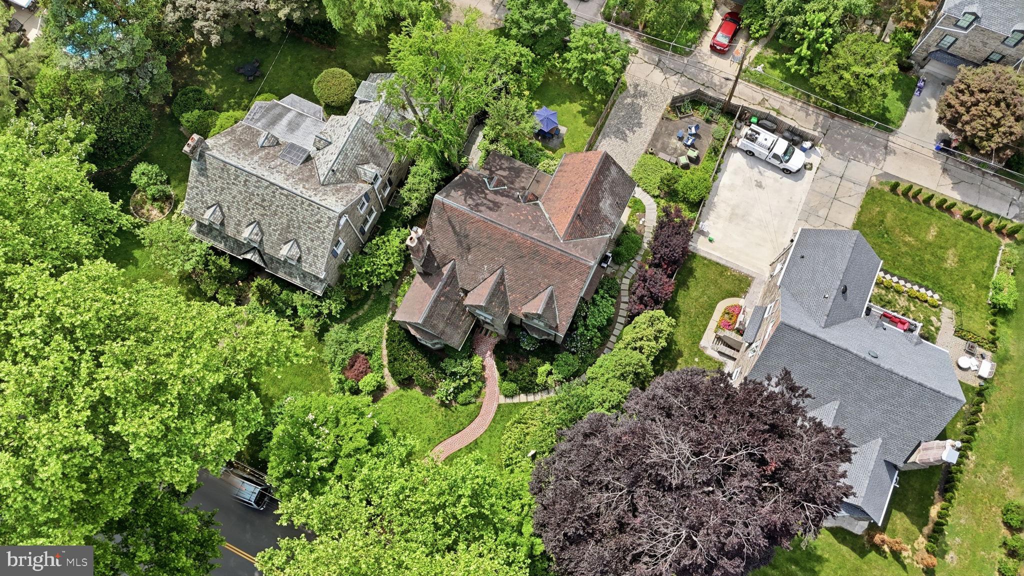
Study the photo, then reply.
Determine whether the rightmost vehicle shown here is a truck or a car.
truck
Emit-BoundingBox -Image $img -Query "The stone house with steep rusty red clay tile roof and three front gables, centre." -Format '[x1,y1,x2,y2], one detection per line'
[391,150,639,353]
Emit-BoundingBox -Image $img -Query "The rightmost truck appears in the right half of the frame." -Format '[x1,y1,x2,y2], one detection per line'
[733,129,807,177]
